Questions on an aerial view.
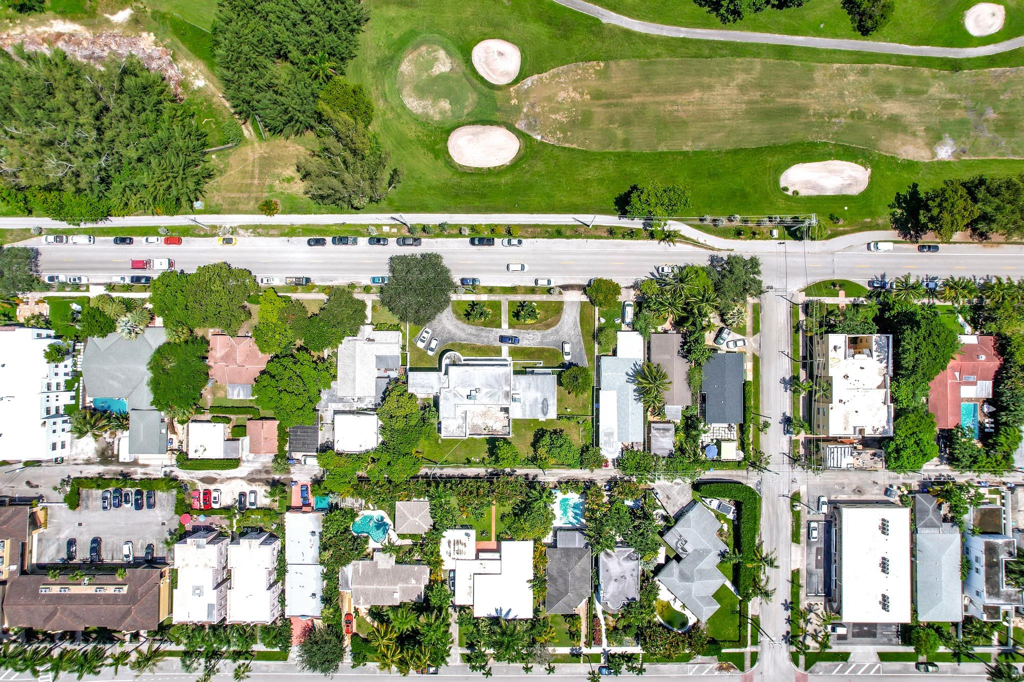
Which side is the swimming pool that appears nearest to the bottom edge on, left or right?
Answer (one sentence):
You can find the swimming pool that appears nearest to the bottom edge on the right side of the picture.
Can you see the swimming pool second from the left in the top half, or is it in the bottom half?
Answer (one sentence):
The swimming pool second from the left sits in the bottom half of the picture.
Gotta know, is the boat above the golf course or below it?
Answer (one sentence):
The boat appears below the golf course in the picture.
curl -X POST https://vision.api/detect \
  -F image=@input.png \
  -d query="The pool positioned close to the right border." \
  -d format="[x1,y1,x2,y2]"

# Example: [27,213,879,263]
[958,398,995,444]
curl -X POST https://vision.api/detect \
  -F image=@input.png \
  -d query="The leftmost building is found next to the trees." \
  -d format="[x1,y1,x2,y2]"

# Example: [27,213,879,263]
[0,325,79,459]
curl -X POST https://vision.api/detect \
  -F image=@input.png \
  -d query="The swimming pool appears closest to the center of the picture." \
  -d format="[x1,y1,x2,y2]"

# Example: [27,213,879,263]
[552,491,586,528]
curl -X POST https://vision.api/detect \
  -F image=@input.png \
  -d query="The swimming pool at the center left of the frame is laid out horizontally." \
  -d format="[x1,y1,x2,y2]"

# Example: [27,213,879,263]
[86,396,129,417]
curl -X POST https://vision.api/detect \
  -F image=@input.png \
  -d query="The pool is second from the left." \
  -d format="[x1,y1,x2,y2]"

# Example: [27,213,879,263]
[350,509,414,550]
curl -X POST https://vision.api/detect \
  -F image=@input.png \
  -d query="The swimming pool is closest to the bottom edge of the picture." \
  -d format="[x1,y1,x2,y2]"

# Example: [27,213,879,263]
[653,579,698,634]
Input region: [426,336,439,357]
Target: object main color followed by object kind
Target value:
white vehicle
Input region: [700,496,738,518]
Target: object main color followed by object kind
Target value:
white boat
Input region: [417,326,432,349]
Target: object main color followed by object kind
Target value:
white car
